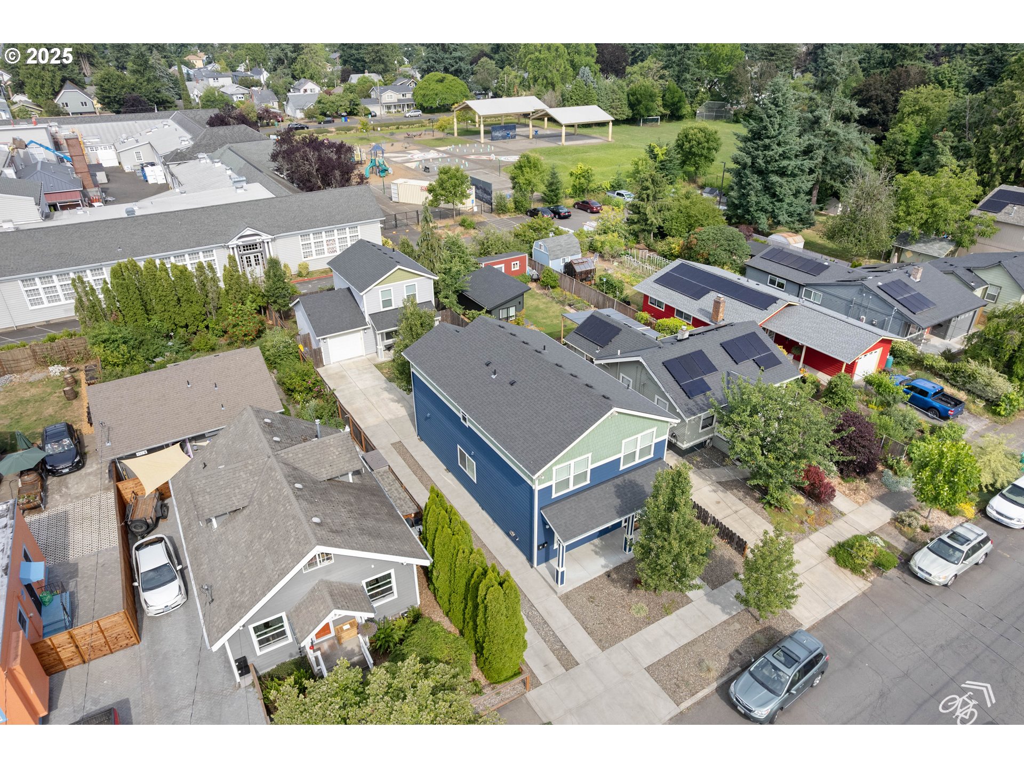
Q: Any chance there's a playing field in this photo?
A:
Yes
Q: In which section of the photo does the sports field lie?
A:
top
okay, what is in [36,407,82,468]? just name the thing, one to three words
car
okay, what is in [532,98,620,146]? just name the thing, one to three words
building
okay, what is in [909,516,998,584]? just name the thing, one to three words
car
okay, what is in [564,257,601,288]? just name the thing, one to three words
greenhouse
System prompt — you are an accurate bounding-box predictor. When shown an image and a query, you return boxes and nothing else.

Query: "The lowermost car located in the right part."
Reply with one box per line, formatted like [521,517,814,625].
[717,631,832,729]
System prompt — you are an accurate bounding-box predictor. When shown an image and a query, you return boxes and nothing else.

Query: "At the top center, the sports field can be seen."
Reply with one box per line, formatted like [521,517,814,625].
[268,111,826,232]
